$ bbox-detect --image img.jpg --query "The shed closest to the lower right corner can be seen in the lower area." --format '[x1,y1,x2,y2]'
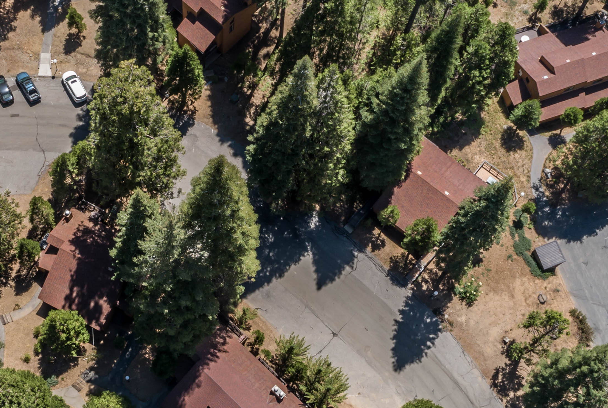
[528,241,566,274]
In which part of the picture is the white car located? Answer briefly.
top left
